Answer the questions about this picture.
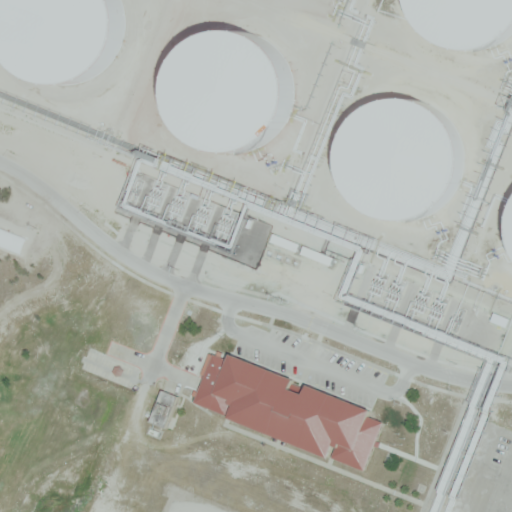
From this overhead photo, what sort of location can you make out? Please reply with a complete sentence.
This image shows an industrial area.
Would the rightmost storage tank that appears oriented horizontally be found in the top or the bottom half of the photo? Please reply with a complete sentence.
You can find the rightmost storage tank that appears oriented horizontally in the top half.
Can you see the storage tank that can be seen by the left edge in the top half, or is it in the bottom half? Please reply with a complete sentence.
It is in the top half that the storage tank that can be seen by the left edge appears.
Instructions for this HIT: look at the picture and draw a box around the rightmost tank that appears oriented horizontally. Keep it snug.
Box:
[400,0,512,52]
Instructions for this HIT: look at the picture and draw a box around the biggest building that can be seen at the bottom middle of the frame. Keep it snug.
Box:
[192,352,383,470]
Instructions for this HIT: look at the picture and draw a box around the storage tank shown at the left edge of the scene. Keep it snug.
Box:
[0,0,128,86]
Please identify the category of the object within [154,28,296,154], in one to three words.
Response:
storage tank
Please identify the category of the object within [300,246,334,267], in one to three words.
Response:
building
